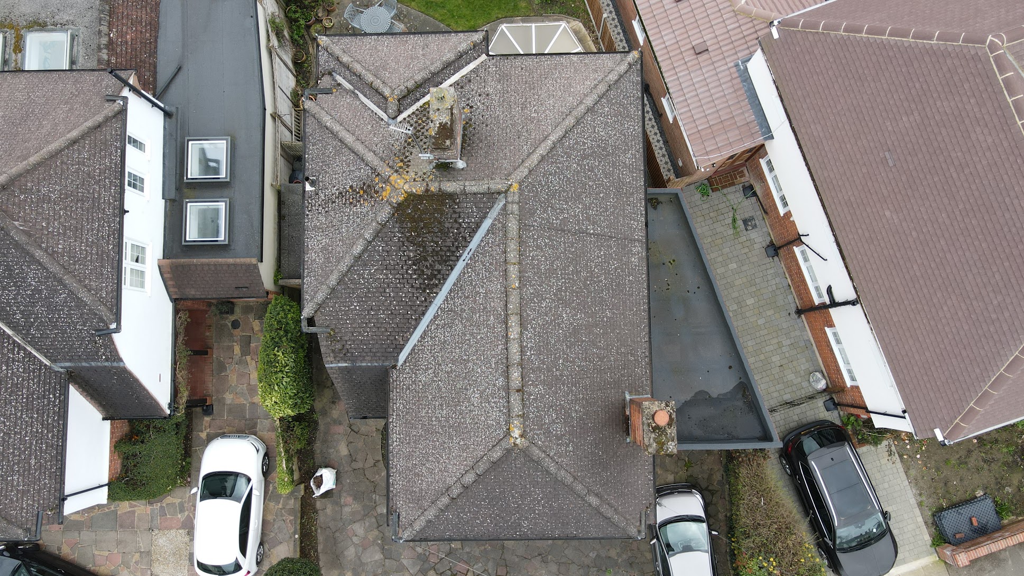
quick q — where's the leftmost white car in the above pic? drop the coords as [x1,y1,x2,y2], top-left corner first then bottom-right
[188,431,271,576]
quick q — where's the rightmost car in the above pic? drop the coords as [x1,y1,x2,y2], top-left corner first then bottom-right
[776,410,902,576]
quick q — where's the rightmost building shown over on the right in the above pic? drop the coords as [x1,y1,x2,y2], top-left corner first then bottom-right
[736,0,1024,448]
